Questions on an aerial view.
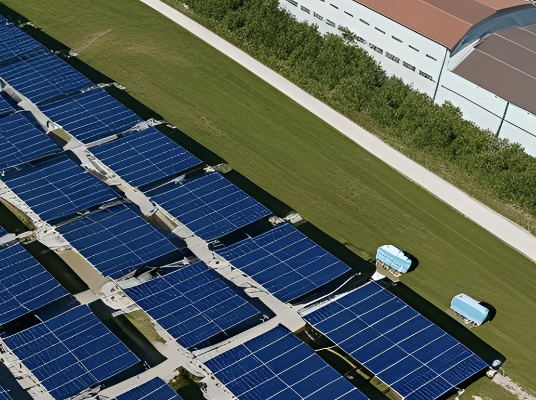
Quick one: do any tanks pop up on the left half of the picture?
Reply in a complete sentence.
No, no tank appears on the left half of the picture.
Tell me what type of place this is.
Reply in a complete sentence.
It's a solar farm.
